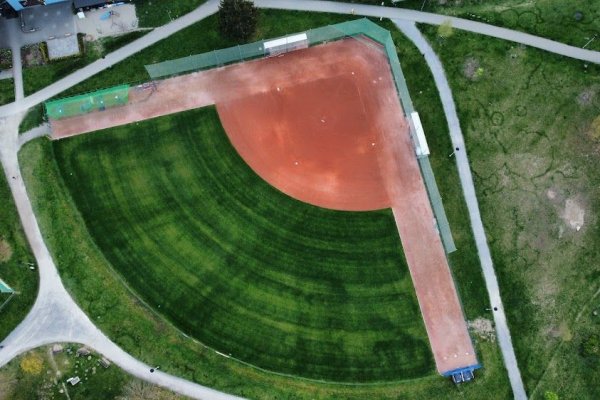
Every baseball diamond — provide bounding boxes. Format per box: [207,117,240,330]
[46,34,481,385]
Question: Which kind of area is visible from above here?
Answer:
sports ground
